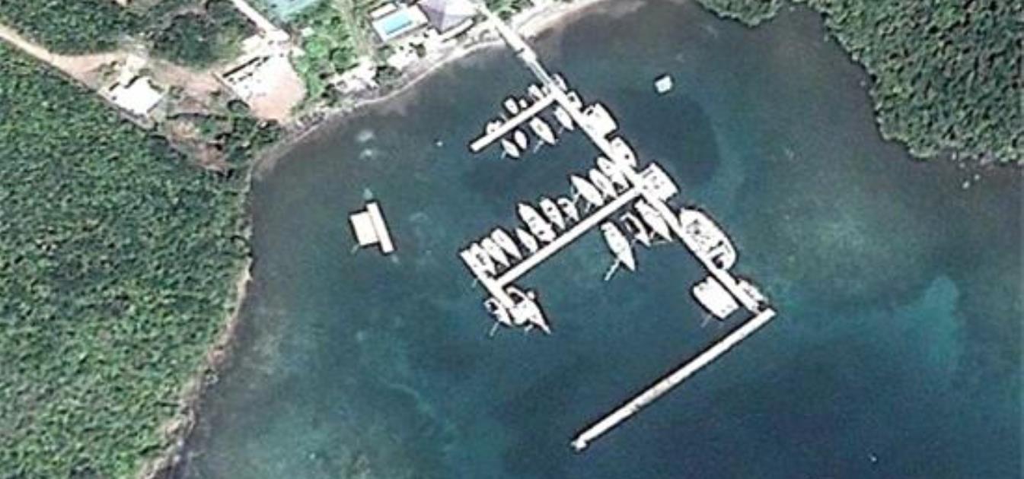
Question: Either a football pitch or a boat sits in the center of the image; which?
boat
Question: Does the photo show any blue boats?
No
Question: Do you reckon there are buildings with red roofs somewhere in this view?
No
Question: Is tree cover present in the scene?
Yes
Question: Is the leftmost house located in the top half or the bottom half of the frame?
top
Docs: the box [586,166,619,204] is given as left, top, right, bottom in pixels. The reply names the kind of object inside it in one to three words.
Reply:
boat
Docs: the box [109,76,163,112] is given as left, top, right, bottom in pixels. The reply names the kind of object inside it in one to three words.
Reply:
house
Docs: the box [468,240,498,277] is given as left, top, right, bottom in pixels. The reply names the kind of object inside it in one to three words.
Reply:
boat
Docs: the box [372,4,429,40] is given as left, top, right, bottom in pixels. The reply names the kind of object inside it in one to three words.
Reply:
swimming pool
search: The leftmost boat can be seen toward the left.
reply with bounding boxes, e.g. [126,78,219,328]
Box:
[350,209,378,245]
